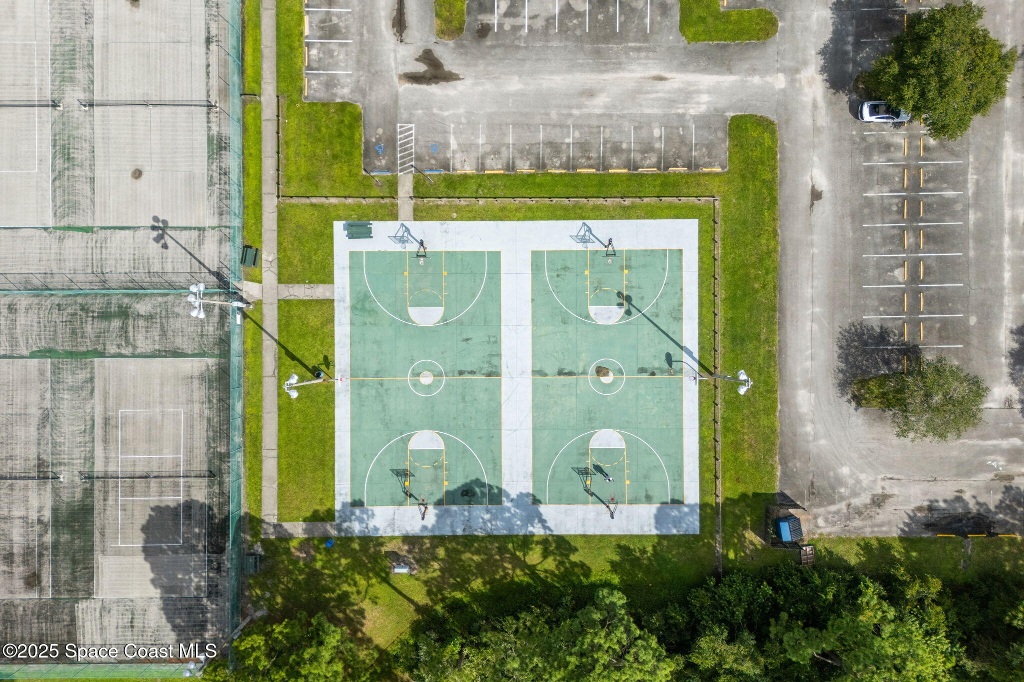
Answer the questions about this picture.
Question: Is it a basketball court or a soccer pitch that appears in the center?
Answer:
basketball court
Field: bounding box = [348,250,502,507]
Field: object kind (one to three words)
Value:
basketball court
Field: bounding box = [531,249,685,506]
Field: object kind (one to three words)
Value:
basketball court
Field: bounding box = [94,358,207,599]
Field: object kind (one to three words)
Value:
tennis court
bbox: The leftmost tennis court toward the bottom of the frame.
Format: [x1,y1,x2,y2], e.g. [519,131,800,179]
[0,358,51,599]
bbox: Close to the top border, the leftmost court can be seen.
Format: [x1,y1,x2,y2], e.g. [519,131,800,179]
[0,0,51,226]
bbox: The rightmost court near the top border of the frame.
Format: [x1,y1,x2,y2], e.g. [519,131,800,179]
[94,0,208,226]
